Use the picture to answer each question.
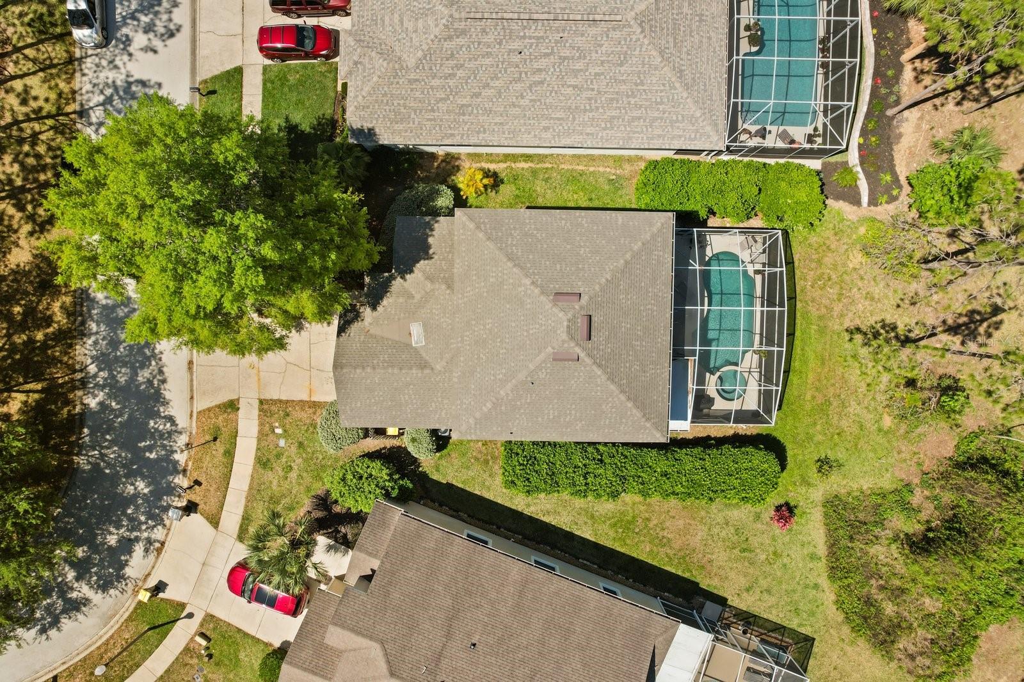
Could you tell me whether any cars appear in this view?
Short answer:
Yes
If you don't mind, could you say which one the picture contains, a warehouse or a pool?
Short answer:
pool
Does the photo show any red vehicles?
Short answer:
Yes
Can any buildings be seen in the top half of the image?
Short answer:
Yes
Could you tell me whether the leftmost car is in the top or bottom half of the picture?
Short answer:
top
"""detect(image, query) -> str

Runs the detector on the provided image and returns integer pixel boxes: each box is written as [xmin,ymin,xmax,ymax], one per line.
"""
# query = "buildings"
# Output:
[276,497,718,682]
[338,0,733,158]
[333,207,679,443]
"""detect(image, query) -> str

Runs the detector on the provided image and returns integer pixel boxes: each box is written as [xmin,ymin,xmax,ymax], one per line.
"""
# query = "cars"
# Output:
[227,560,310,621]
[67,0,111,51]
[271,0,352,19]
[259,23,336,65]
